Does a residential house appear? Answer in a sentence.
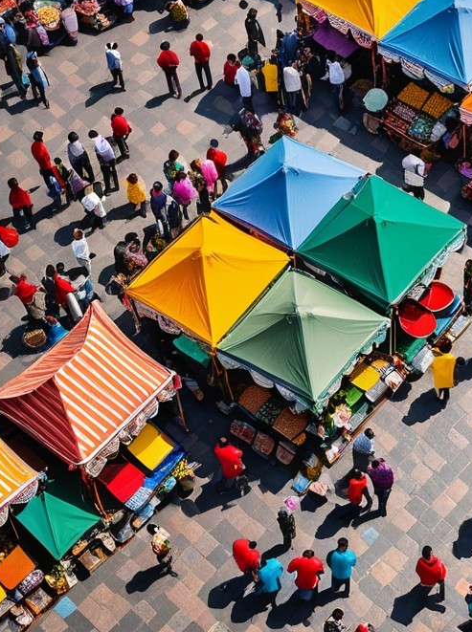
No, I can see no residential house in this picture.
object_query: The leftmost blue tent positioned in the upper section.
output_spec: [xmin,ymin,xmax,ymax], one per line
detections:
[211,136,369,272]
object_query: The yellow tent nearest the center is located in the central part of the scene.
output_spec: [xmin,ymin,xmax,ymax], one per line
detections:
[124,214,291,403]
